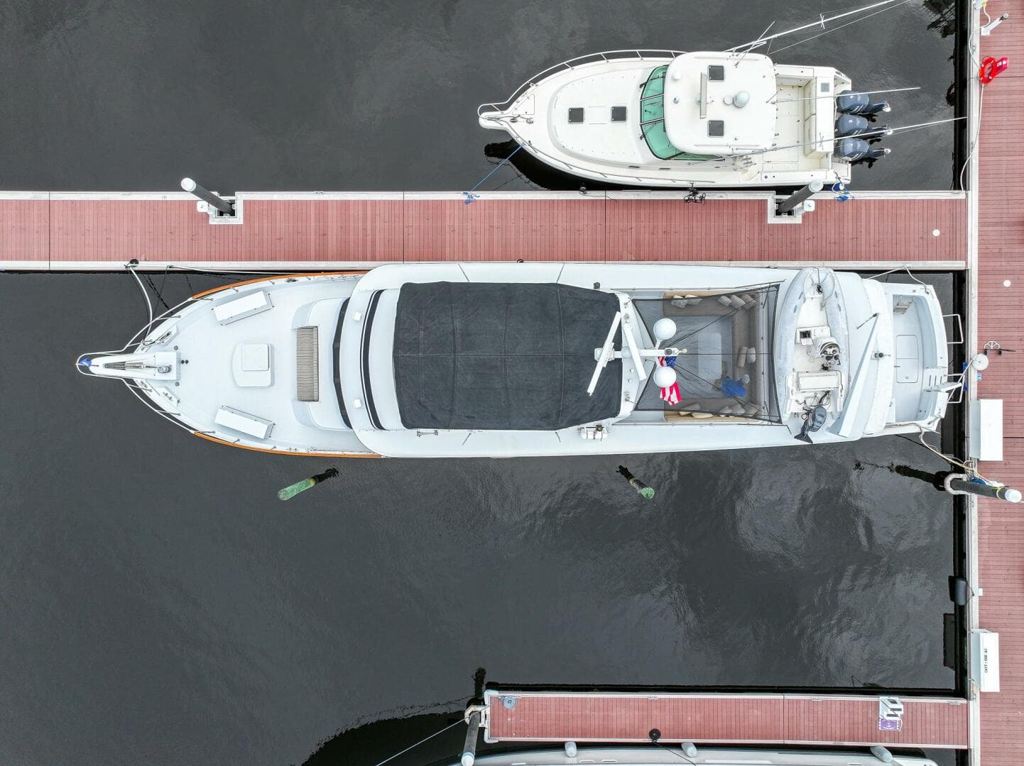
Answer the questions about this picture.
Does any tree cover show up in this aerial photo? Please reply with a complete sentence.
No, tree cover can't be seen anywhere here.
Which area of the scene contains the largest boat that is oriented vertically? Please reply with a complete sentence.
You can find the largest boat that is oriented vertically in the right area of the picture.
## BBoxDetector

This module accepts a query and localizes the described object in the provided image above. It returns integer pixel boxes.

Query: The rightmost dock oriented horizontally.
[484,687,968,750]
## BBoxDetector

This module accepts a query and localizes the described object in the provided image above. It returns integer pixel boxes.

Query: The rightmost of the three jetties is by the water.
[962,0,1024,766]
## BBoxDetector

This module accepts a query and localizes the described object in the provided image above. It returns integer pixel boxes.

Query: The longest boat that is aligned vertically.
[775,267,852,441]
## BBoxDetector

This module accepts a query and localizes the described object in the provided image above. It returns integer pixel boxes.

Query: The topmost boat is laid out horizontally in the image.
[477,0,967,189]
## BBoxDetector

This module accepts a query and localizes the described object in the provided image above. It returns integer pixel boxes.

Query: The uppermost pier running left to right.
[0,186,967,271]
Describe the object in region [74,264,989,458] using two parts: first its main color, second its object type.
white boat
